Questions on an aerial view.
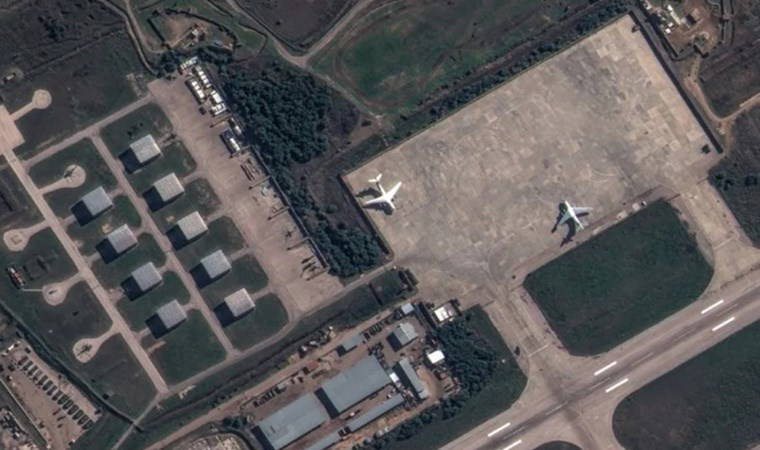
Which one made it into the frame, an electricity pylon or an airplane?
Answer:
airplane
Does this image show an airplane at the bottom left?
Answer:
No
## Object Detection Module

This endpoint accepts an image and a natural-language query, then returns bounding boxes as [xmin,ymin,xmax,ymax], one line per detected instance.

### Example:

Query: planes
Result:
[560,203,592,235]
[367,175,402,210]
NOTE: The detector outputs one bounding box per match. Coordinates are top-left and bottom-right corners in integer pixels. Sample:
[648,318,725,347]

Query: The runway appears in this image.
[438,264,760,450]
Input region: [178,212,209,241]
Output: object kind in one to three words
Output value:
hangar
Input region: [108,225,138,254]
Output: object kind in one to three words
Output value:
hangar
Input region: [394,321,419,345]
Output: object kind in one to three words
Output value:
building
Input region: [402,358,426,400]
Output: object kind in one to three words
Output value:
shed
